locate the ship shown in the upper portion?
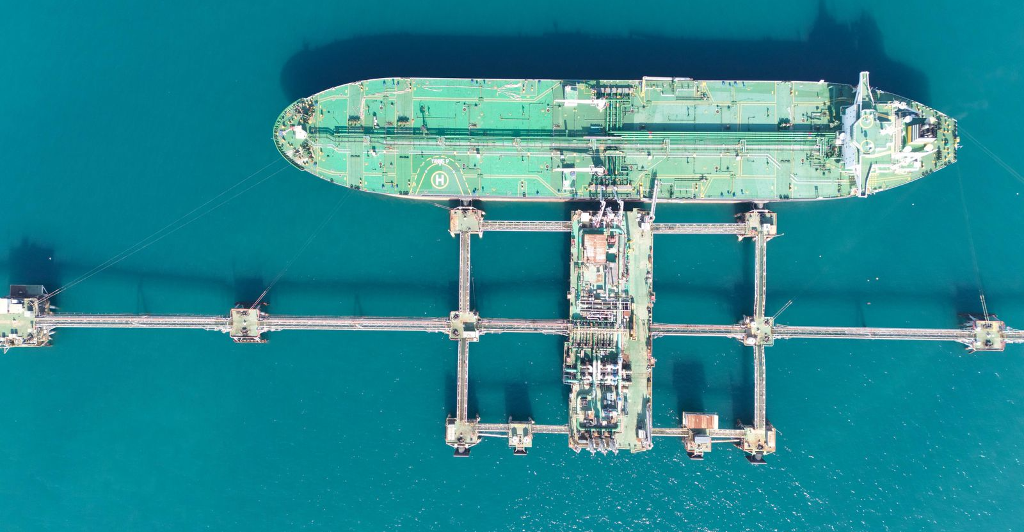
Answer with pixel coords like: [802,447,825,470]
[272,71,962,202]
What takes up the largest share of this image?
water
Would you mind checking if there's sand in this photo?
No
